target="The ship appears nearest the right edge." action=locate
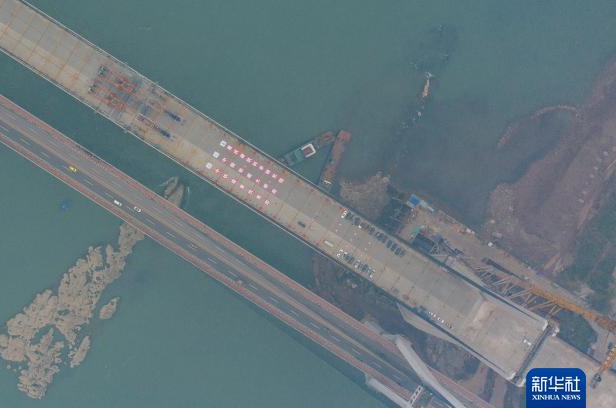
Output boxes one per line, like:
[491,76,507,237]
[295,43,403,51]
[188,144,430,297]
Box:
[321,130,353,190]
